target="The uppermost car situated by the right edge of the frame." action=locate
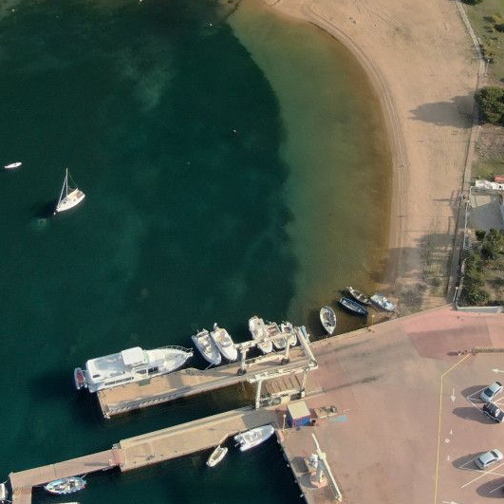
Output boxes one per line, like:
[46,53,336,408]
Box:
[478,382,504,402]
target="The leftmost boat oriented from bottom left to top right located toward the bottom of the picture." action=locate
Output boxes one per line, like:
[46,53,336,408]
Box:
[205,448,225,468]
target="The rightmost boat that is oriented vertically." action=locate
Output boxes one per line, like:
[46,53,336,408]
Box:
[321,306,336,335]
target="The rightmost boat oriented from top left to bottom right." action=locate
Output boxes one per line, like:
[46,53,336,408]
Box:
[370,293,395,309]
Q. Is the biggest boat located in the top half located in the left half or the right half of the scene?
left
